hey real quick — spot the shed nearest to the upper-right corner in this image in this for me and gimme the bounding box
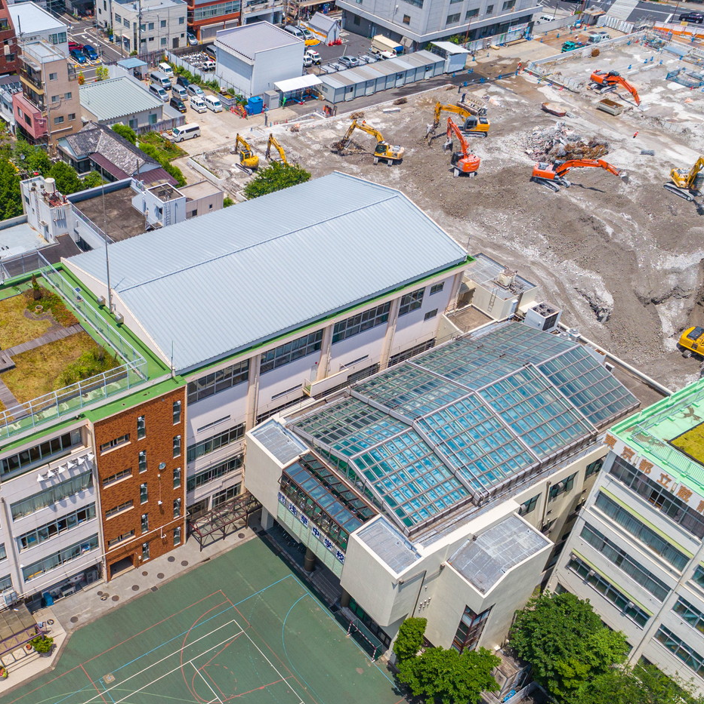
[579,1,612,25]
